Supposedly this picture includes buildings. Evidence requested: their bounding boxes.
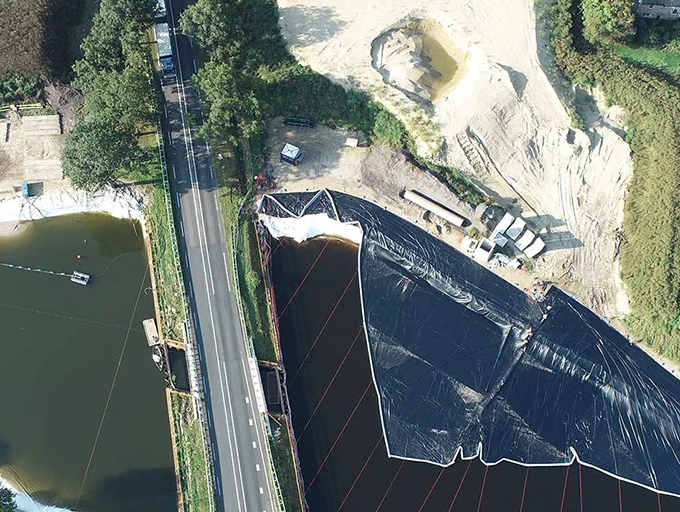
[624,0,680,20]
[281,147,299,167]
